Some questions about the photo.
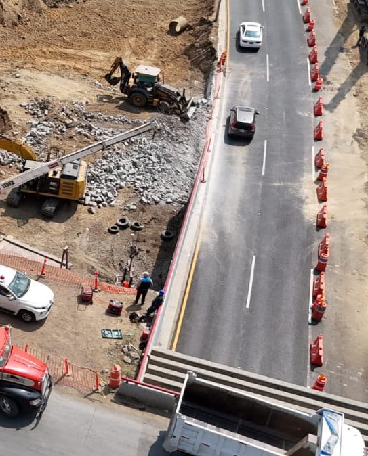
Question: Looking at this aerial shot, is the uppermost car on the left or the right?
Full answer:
The uppermost car is on the right side of the image.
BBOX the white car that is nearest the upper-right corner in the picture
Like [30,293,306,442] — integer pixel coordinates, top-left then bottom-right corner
[239,17,266,47]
